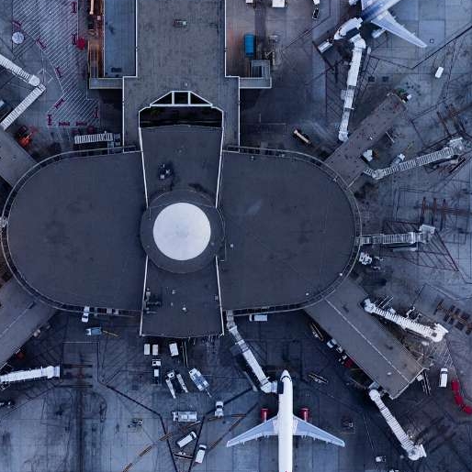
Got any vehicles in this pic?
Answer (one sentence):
Yes, the image includes a vehicle.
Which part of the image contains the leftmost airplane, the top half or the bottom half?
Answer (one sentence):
It is in the bottom half that the leftmost airplane appears.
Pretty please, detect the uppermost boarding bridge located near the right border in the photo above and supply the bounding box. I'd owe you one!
[362,135,464,180]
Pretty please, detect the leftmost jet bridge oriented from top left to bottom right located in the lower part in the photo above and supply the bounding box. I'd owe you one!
[225,313,284,391]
